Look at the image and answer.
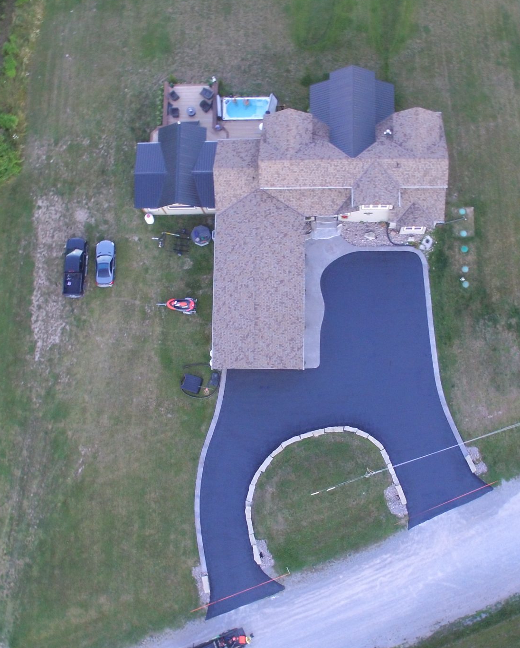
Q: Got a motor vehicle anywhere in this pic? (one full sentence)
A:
Yes, the frame does contain a motor vehicle.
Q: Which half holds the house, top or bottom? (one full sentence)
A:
The top half of the photo is where the house is.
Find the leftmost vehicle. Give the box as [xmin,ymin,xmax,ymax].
[62,239,90,300]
